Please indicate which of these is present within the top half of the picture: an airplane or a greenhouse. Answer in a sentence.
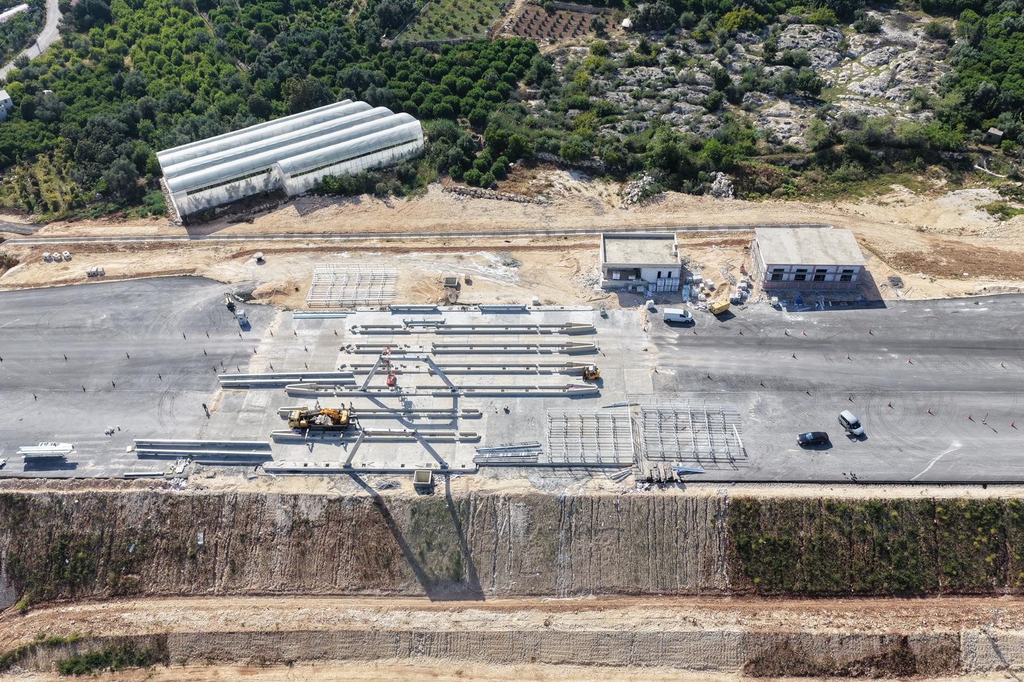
Looking within the top half of the picture, you will find a greenhouse.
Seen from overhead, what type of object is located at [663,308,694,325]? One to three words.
vehicle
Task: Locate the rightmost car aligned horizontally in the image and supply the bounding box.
[797,433,832,449]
